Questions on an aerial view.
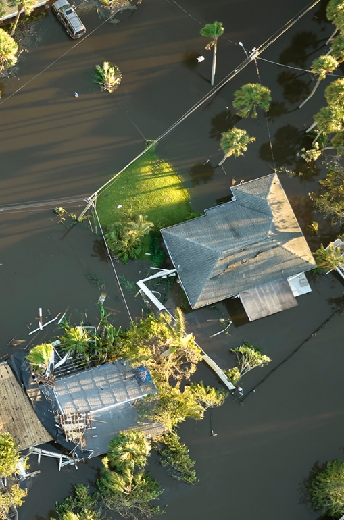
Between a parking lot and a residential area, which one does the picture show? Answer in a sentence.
What you see here is a residential area.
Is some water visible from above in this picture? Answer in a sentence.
Yes, there is water in the image.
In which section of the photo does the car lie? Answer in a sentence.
The car appears toward the top left of the photo.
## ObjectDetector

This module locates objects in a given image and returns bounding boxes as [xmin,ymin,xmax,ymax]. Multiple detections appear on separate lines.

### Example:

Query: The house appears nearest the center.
[160,173,318,309]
